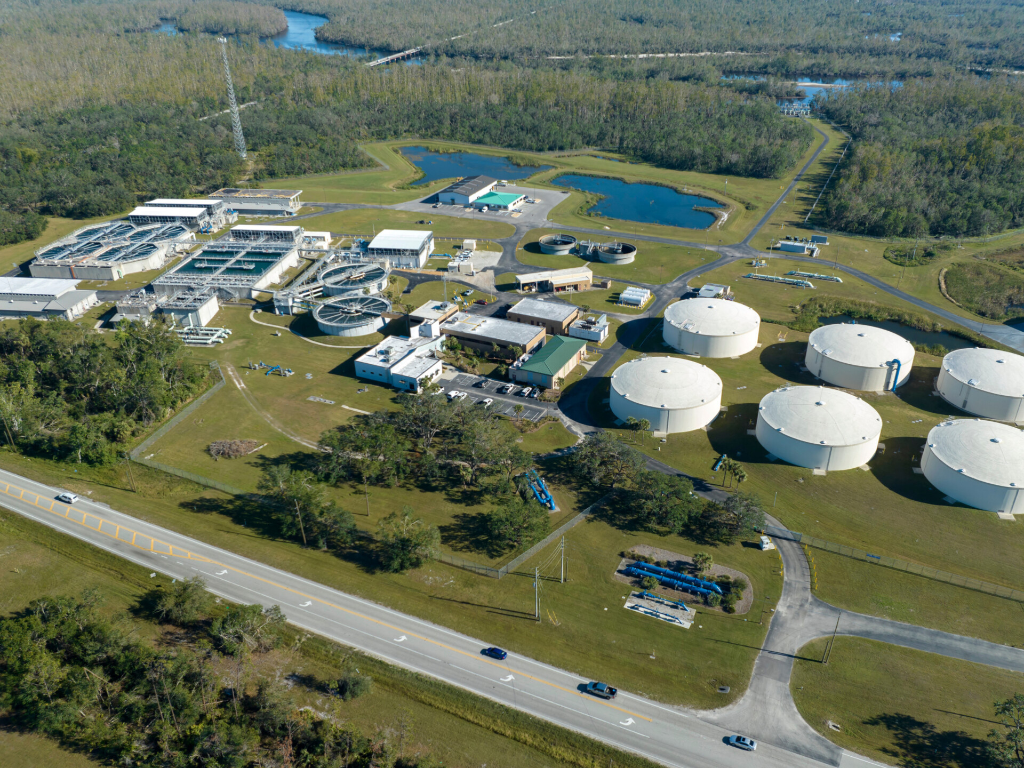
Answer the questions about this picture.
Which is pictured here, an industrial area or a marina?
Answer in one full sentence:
This image shows an industrial area.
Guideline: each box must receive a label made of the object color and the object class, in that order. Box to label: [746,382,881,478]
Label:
white storage tank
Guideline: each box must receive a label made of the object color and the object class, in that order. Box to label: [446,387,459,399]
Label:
white vehicle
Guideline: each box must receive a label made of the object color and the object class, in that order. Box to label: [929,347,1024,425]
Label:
white storage tank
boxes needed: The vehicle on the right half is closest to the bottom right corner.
[728,733,757,752]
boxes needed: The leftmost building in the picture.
[0,275,104,324]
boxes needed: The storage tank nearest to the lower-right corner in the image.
[906,419,1024,522]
